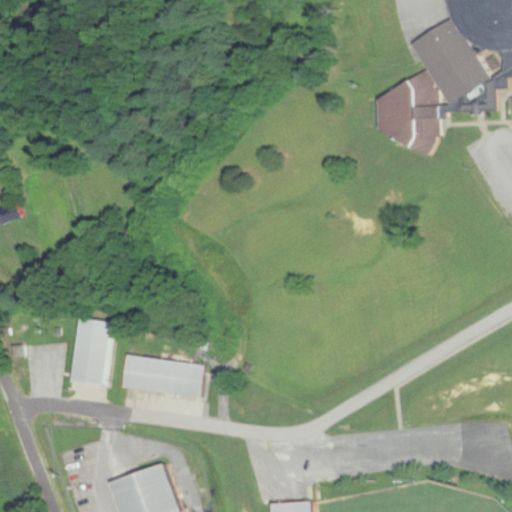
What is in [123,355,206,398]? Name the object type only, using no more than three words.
shed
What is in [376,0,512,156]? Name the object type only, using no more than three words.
church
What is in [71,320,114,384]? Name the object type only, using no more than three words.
building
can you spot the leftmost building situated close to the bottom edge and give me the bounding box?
[108,464,180,512]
